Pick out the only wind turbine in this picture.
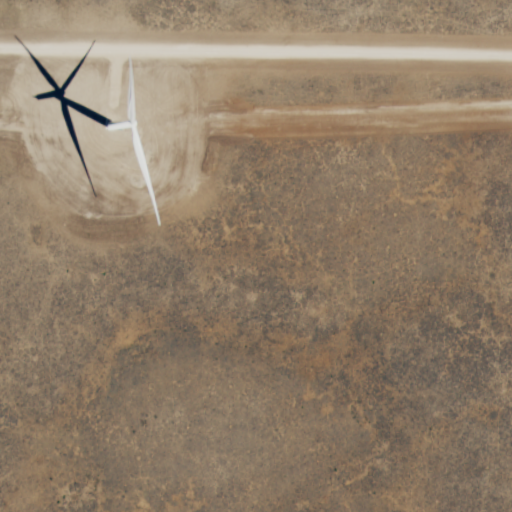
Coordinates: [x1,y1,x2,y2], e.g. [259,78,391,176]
[106,58,160,226]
